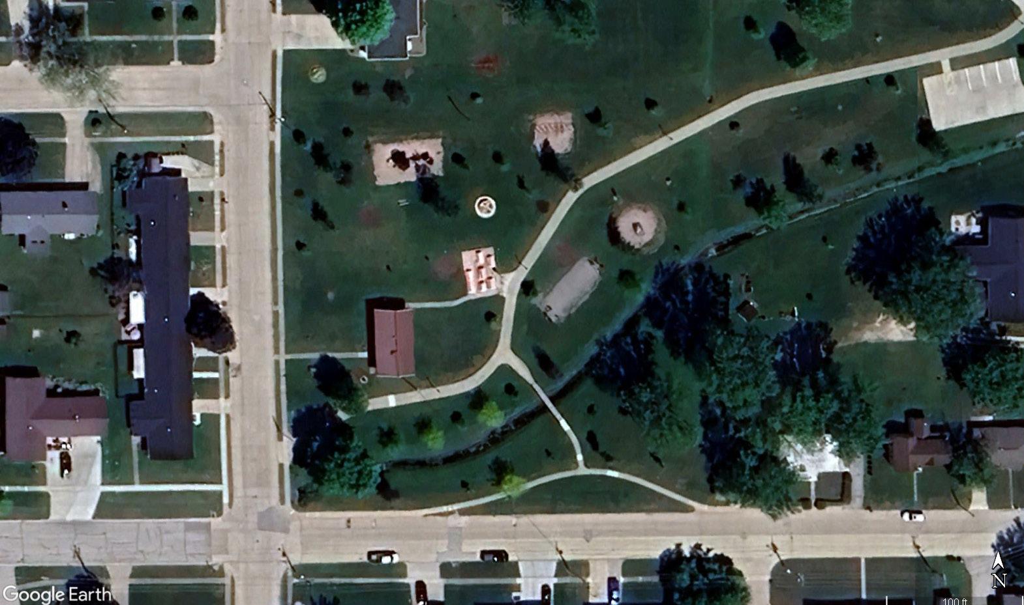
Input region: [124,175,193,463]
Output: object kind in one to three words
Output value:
building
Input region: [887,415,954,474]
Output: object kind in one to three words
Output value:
house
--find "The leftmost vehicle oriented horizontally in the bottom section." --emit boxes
[370,554,397,566]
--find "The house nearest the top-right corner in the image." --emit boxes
[948,214,1024,325]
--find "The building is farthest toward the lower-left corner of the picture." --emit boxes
[3,375,112,465]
